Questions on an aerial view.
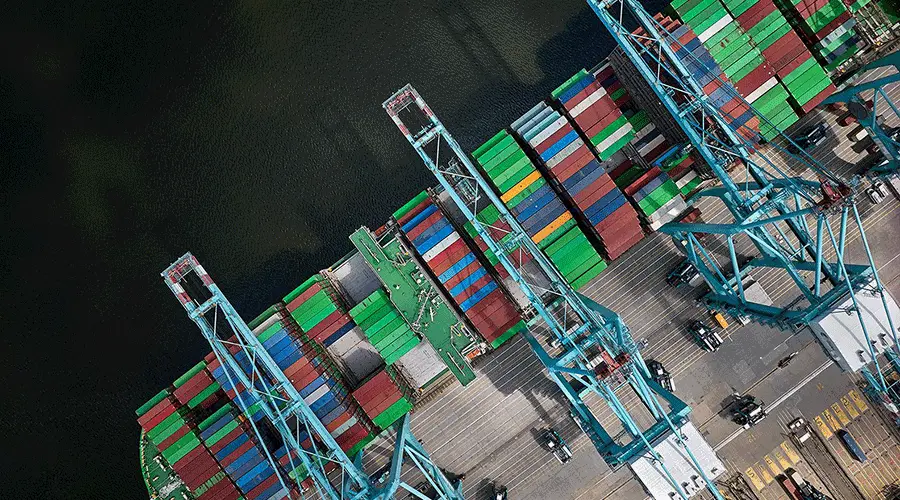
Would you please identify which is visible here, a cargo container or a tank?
cargo container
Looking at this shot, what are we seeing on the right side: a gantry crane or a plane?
gantry crane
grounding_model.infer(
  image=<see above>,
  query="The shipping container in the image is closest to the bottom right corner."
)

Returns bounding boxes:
[838,429,869,463]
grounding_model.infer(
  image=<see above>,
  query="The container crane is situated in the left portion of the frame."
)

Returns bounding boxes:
[154,248,468,500]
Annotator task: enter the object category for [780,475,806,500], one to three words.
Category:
shipping container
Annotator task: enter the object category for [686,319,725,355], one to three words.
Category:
work vehicle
